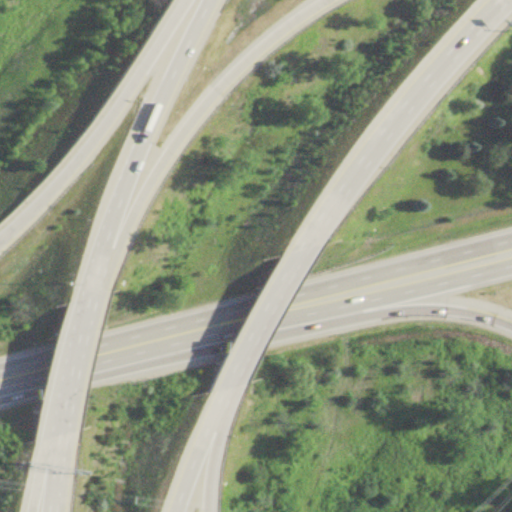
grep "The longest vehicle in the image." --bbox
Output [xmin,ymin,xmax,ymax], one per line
[142,101,164,144]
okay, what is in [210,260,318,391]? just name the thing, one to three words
overpass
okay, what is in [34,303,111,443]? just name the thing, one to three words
overpass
